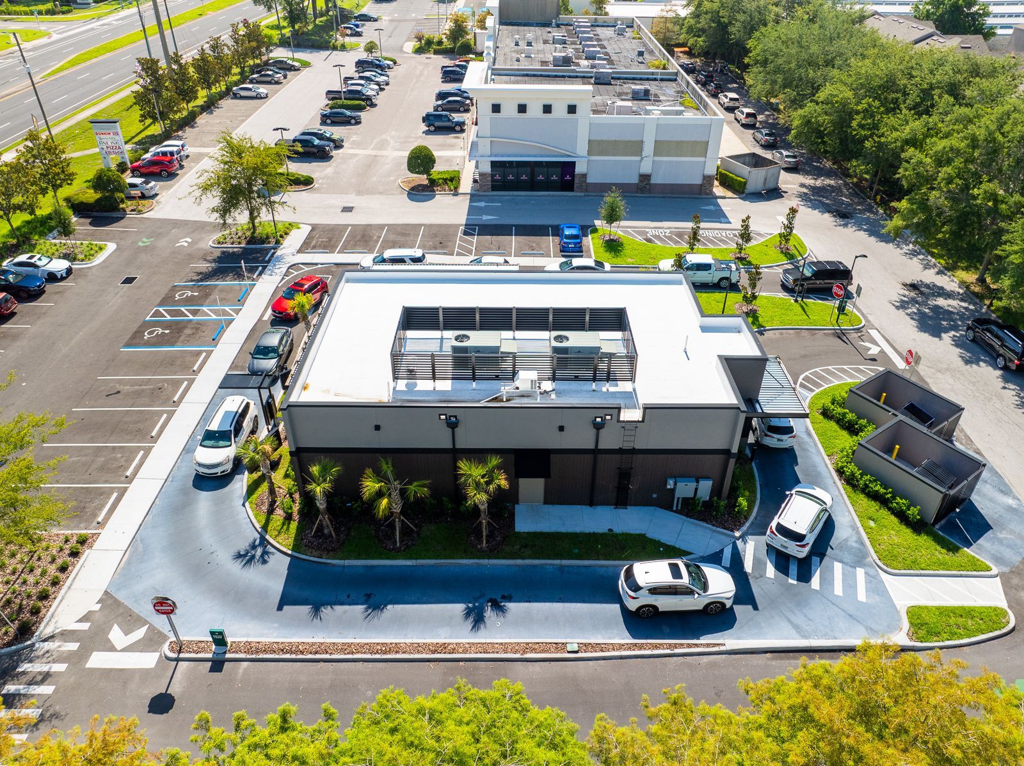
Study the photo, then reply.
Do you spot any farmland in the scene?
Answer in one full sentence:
No, the scene doesn't show any farmland.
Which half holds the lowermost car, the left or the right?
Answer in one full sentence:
You can find the lowermost car on the right side of the picture.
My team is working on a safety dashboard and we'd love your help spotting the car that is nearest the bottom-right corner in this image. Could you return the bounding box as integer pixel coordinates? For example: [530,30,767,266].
[759,487,835,571]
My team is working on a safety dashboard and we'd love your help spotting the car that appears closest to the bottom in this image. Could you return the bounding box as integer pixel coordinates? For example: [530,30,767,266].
[614,560,740,621]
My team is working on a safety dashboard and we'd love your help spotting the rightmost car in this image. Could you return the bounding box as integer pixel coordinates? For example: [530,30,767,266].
[957,317,1024,377]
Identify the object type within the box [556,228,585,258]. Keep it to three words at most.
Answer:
car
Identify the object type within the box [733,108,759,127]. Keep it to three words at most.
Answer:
car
